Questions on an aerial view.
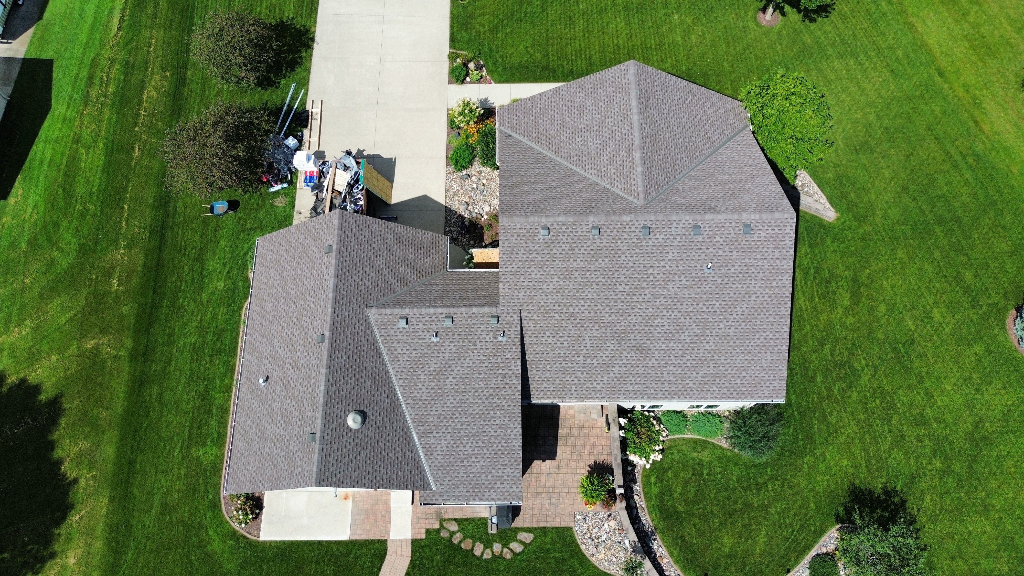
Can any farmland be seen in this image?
No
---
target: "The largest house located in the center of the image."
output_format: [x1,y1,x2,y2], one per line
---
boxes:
[224,60,796,507]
